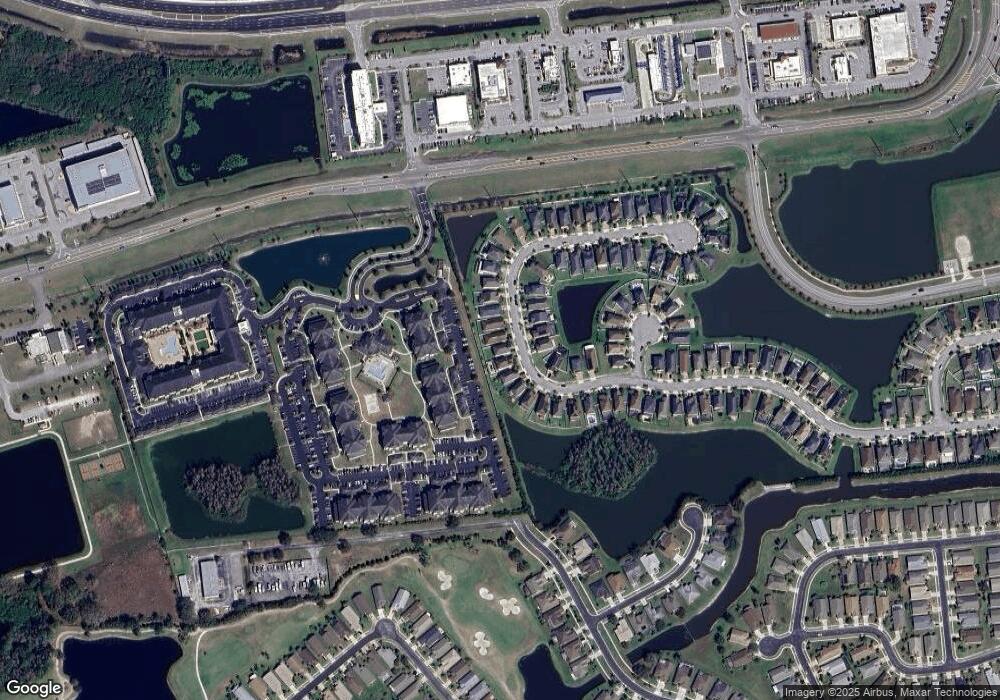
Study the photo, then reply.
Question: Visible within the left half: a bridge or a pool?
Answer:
pool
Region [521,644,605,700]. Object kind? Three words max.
pond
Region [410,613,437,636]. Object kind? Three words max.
house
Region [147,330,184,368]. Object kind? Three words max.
swimming pool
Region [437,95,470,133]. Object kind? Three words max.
building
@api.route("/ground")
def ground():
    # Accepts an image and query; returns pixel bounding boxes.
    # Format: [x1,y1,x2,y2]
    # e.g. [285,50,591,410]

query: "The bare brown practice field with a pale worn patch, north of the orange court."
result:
[62,409,118,452]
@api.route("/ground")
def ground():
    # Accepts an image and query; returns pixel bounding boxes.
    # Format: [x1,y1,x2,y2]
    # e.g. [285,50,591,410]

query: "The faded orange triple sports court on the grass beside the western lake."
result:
[80,450,125,480]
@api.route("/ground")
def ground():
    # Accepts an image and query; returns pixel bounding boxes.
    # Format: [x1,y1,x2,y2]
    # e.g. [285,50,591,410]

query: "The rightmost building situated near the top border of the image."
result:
[867,12,912,76]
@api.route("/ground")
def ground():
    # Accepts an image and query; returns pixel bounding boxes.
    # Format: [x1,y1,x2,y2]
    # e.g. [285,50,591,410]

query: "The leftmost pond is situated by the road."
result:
[0,102,77,144]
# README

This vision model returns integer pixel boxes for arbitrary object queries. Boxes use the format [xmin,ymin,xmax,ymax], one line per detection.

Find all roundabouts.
[339,293,385,331]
